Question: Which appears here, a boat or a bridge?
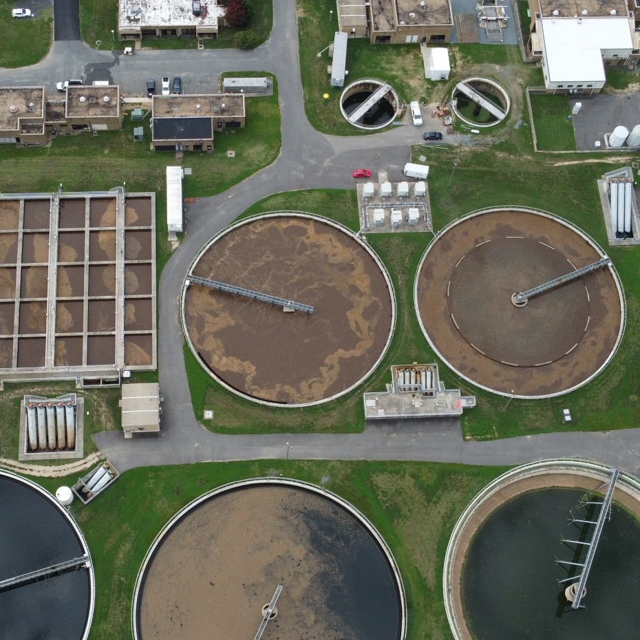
bridge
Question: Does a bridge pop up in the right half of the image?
Yes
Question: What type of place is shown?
industrial area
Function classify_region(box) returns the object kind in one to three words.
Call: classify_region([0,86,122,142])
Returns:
building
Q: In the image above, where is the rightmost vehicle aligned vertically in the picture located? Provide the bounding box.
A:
[409,99,424,127]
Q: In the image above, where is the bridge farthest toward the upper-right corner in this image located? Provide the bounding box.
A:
[515,256,614,302]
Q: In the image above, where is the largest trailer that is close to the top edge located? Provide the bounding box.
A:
[322,32,348,90]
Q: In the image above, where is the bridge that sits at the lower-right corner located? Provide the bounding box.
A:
[570,468,620,609]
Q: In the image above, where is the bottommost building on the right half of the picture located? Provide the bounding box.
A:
[363,360,476,420]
